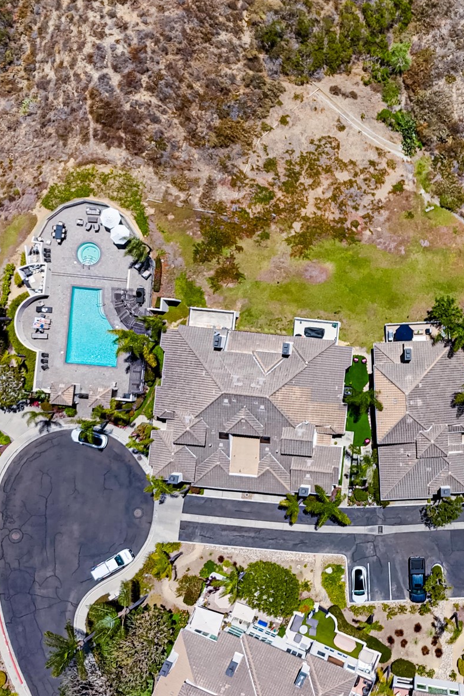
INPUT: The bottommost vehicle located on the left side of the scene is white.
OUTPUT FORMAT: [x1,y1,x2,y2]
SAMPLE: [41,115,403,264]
[89,550,136,580]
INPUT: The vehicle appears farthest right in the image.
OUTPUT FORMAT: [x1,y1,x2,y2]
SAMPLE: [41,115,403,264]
[408,556,425,602]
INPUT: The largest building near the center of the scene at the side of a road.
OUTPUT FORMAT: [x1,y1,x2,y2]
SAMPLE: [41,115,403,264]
[150,306,354,497]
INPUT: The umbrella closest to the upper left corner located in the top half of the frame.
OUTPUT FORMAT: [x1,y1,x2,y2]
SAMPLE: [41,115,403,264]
[101,208,121,228]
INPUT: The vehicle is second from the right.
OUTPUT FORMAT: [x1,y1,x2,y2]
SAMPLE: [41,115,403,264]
[349,565,368,601]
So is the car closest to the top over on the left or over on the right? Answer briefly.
left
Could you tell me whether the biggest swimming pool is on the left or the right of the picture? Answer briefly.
left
